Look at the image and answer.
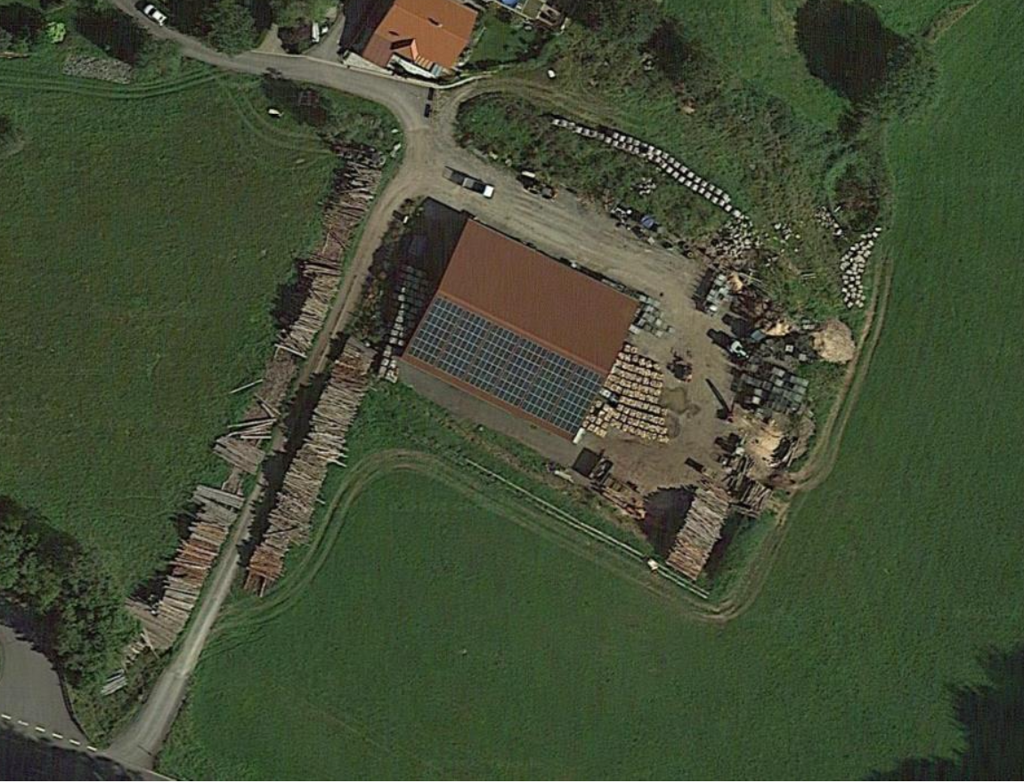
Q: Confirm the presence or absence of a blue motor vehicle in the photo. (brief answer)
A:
No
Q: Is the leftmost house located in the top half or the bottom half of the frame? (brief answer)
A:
top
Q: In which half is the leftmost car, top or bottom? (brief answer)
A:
top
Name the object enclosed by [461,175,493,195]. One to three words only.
vehicle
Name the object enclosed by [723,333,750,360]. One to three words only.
work vehicle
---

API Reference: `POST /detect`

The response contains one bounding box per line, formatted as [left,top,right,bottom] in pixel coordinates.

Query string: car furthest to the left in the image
[142,4,168,25]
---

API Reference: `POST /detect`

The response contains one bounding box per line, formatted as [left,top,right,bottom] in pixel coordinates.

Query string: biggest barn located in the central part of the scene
[402,218,639,440]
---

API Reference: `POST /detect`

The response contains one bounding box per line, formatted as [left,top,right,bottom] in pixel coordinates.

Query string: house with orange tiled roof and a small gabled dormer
[369,0,478,68]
